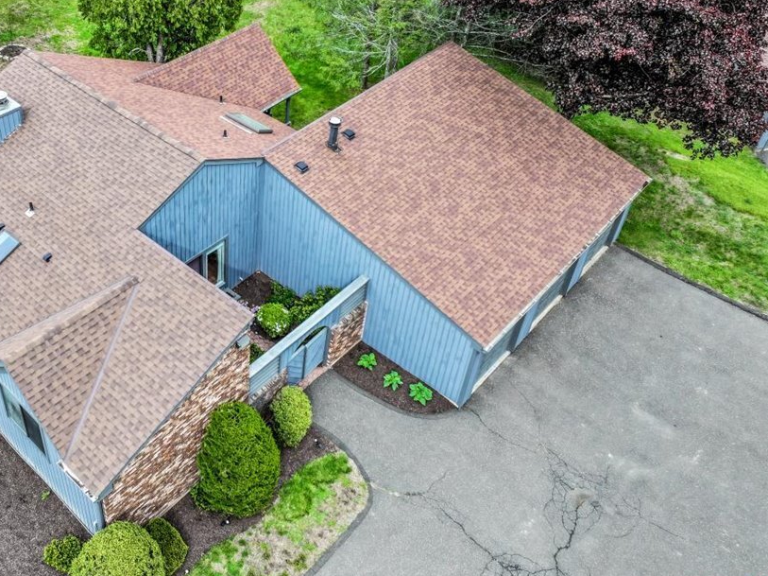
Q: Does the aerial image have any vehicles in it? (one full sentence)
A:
No, there appears to be no vehicle in this shot.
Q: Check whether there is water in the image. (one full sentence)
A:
No, the picture contains no water.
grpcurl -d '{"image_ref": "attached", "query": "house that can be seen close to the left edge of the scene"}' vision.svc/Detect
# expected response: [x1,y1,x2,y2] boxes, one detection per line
[0,21,307,536]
